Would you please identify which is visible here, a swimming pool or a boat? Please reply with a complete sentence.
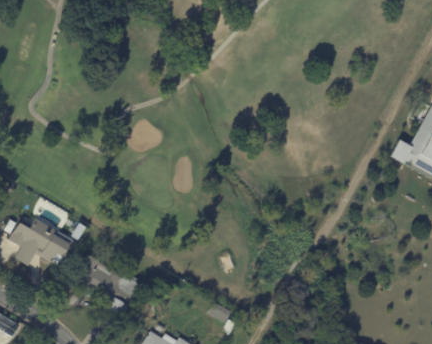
I can see a swimming pool in this picture.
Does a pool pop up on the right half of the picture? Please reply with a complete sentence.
No, no pool is visible on the right half of the picture.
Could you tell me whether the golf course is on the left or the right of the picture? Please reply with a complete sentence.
The golf course is on the left side of the image.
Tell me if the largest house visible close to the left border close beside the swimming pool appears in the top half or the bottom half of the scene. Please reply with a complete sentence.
You can find the largest house visible close to the left border close beside the swimming pool in the bottom half.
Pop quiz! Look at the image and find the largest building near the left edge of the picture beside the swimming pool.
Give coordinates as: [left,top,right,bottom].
[10,218,74,266]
